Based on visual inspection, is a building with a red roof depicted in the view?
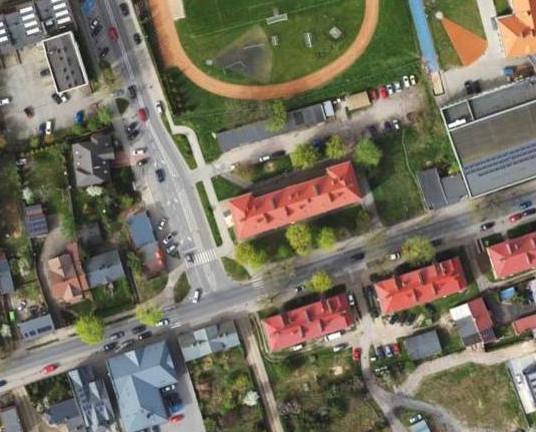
Yes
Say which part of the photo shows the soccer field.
top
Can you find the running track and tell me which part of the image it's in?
top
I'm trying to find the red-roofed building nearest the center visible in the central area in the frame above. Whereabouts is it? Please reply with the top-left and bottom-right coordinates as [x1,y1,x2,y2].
[229,161,361,240]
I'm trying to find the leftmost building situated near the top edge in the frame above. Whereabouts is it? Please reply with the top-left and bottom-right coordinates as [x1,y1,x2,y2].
[0,2,47,56]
